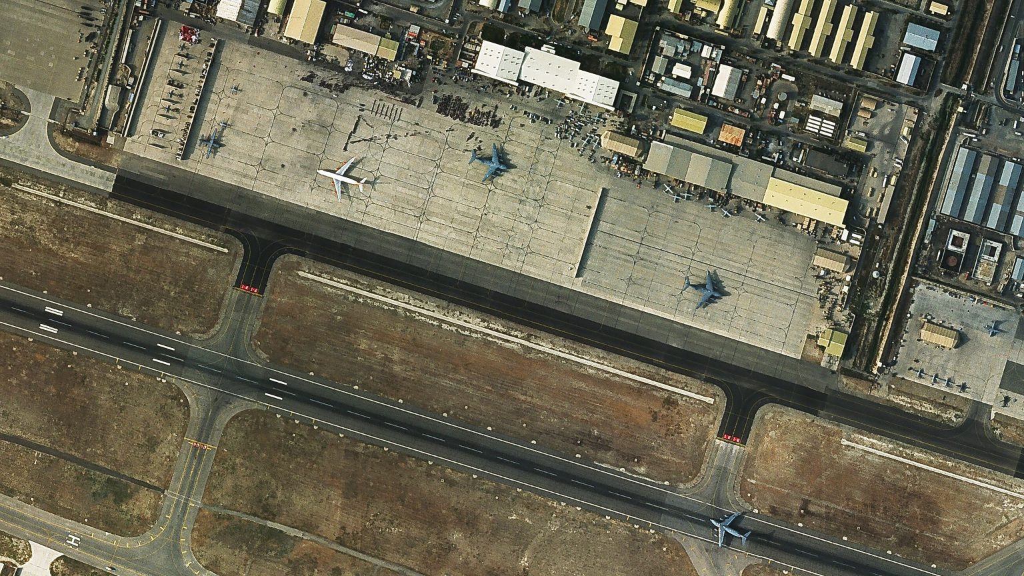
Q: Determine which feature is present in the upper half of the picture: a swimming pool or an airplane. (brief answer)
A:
airplane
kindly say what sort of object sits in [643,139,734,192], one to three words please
hangar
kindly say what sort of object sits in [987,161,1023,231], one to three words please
building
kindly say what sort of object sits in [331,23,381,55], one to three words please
building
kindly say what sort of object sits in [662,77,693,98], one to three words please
shed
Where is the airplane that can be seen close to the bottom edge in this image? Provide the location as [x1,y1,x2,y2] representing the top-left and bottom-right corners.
[710,512,749,548]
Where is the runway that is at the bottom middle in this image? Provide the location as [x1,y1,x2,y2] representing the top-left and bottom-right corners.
[0,280,961,576]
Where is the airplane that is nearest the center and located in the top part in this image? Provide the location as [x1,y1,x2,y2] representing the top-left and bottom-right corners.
[469,142,508,180]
